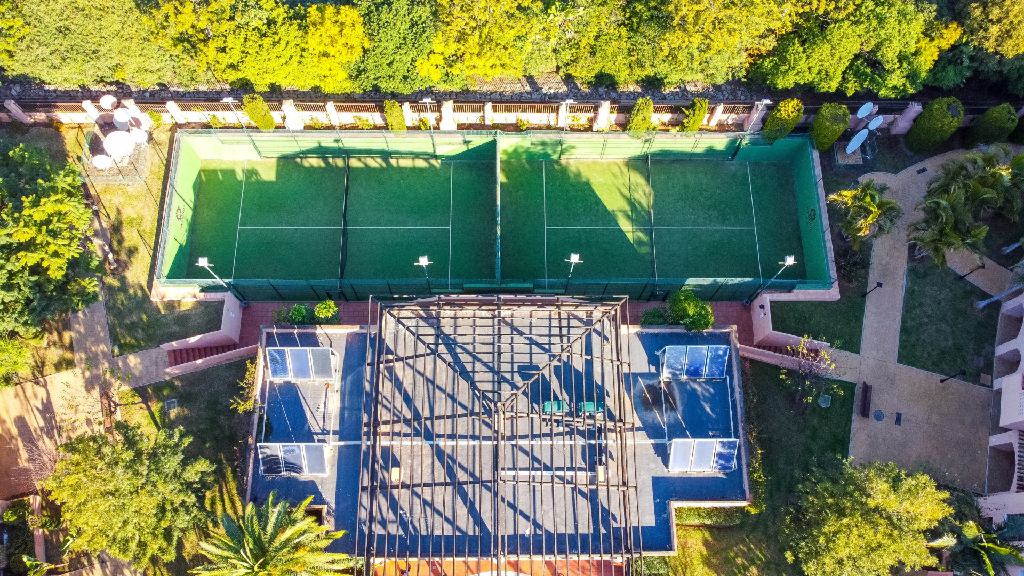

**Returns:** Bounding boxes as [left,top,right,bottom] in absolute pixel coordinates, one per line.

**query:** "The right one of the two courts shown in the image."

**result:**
[500,130,837,302]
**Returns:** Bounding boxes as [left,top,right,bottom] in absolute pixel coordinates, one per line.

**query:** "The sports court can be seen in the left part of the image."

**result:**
[154,128,497,303]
